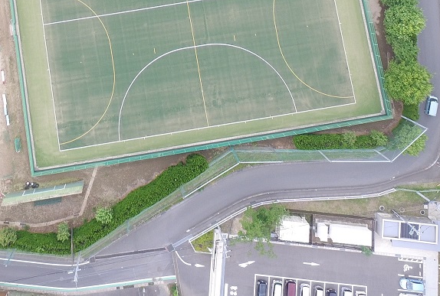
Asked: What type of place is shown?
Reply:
sports ground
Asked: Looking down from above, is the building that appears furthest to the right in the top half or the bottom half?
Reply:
bottom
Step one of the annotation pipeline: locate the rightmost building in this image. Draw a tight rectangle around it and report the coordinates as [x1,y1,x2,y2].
[377,212,440,249]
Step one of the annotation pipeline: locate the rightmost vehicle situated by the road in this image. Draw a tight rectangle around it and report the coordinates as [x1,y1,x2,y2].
[425,96,440,116]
